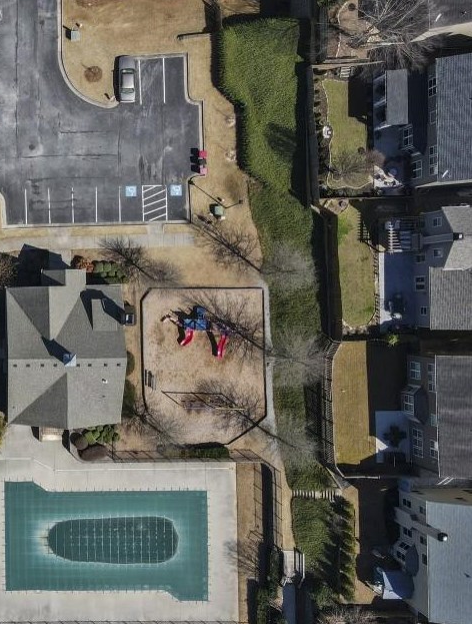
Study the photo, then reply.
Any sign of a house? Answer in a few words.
Yes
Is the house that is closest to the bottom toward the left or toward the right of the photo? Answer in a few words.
right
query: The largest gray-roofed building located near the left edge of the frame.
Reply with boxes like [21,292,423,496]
[7,269,137,430]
